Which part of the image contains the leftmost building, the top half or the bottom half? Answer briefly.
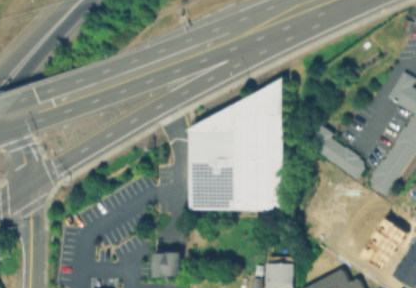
bottom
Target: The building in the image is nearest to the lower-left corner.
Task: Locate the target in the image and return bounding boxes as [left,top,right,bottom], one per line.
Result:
[150,252,180,278]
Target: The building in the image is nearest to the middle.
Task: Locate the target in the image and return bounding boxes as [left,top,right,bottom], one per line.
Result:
[188,78,283,211]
